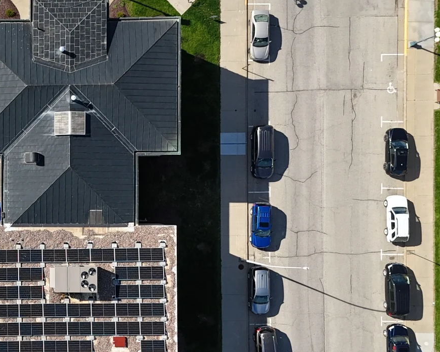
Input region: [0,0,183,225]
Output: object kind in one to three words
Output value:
building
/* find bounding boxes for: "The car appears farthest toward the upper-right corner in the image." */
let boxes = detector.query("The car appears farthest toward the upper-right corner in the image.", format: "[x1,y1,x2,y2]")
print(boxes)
[383,129,410,177]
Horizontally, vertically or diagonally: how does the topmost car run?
vertically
